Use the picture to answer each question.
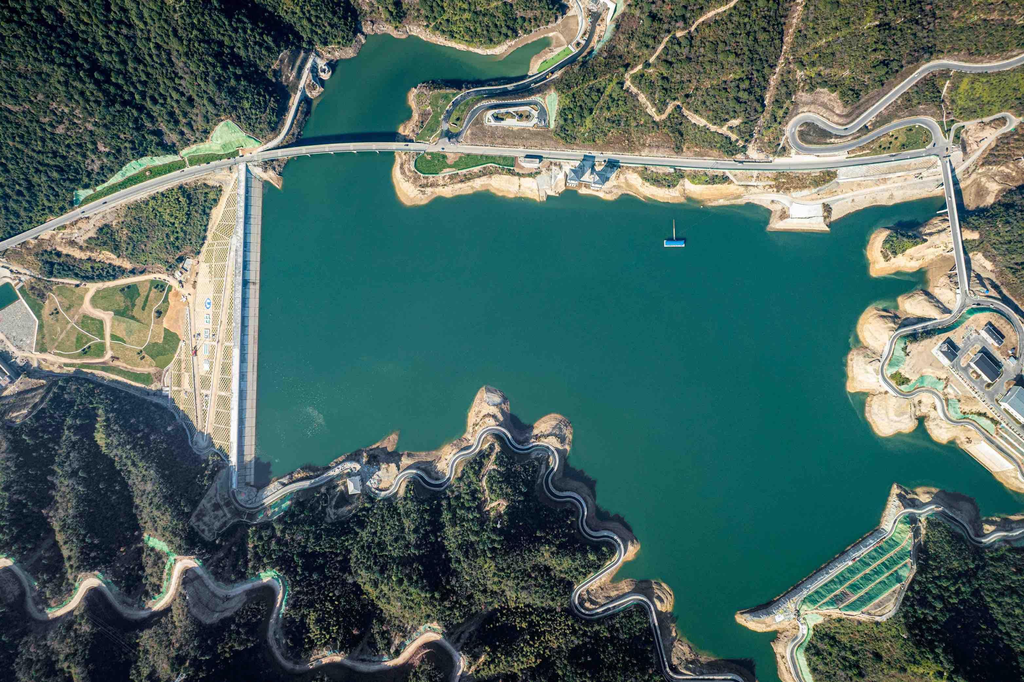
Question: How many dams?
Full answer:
Altogether the scene contains 2 dams.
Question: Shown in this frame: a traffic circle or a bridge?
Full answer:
The image shows a bridge.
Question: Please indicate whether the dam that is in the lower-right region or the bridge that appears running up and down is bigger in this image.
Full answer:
Of the two, the dam is bigger, while the bridge is smaller.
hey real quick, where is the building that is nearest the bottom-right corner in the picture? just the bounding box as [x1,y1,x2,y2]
[994,387,1024,431]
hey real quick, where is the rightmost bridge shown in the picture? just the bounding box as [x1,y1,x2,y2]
[935,150,972,296]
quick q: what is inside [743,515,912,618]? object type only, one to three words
dam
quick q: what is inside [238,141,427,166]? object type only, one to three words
bridge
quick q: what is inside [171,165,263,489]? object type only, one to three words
dam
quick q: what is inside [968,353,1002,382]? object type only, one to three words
building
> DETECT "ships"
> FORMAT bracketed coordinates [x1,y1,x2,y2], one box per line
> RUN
[664,220,685,246]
